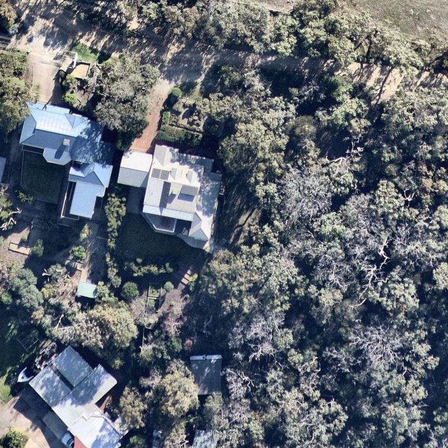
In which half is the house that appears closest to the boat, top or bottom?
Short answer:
bottom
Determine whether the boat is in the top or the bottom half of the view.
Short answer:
bottom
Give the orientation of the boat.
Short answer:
diagonally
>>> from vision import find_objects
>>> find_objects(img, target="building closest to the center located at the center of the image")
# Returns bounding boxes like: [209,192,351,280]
[143,145,224,240]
